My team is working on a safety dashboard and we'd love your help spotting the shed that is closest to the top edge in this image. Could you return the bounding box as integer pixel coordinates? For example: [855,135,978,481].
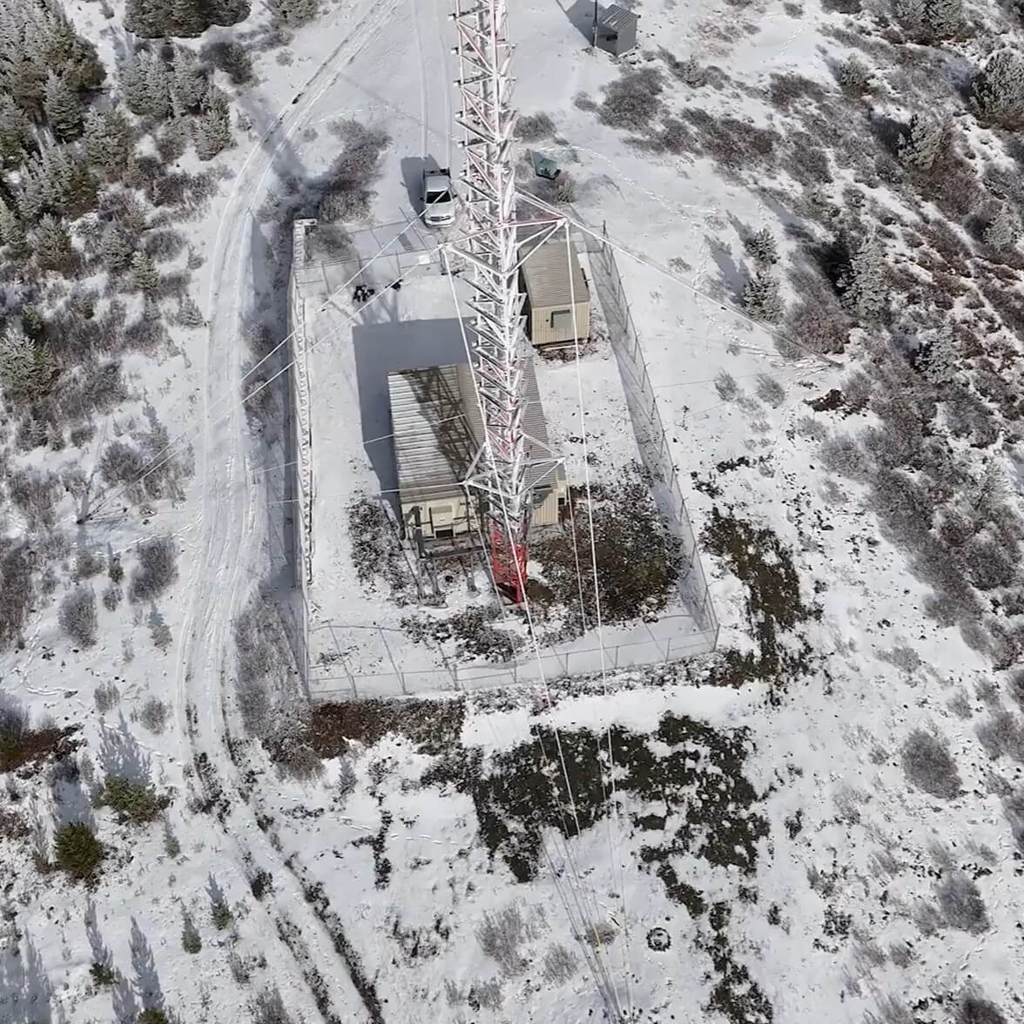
[592,3,642,58]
